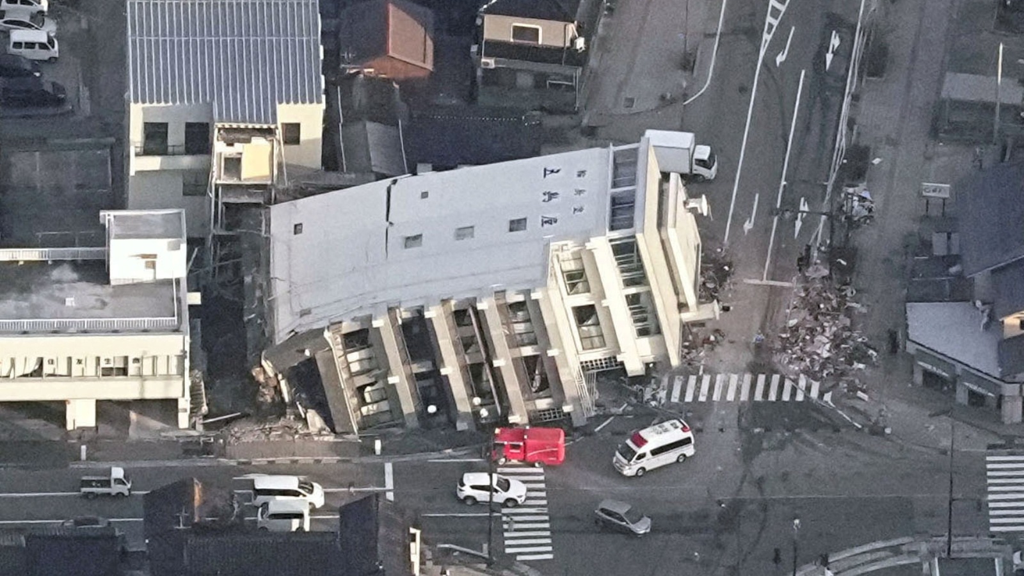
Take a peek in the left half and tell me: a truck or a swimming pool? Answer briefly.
truck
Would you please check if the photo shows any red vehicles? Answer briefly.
Yes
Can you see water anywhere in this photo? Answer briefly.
No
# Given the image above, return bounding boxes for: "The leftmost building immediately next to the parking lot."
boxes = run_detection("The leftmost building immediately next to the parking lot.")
[0,200,200,428]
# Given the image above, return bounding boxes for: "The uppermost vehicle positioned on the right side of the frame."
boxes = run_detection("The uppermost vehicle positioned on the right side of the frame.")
[641,126,715,181]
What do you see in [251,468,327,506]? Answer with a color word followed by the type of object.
white vehicle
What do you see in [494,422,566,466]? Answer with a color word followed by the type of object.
red truck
